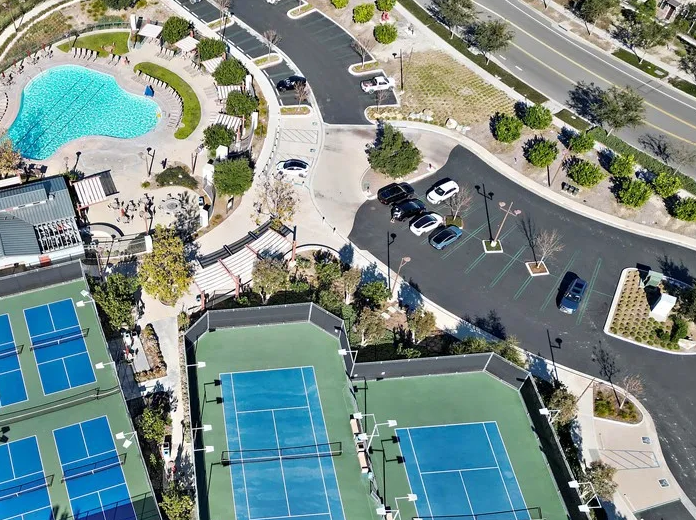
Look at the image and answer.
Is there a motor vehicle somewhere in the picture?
Yes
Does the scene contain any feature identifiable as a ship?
No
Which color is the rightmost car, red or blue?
blue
